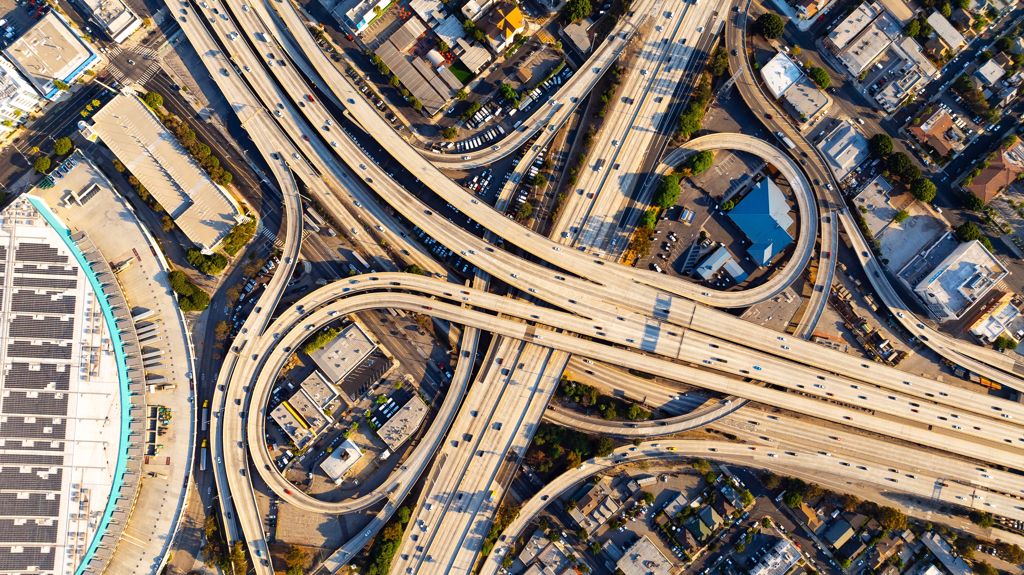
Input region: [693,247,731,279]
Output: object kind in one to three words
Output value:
shed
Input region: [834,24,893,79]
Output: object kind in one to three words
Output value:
building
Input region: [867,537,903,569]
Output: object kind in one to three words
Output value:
house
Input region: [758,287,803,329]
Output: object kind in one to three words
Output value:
building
